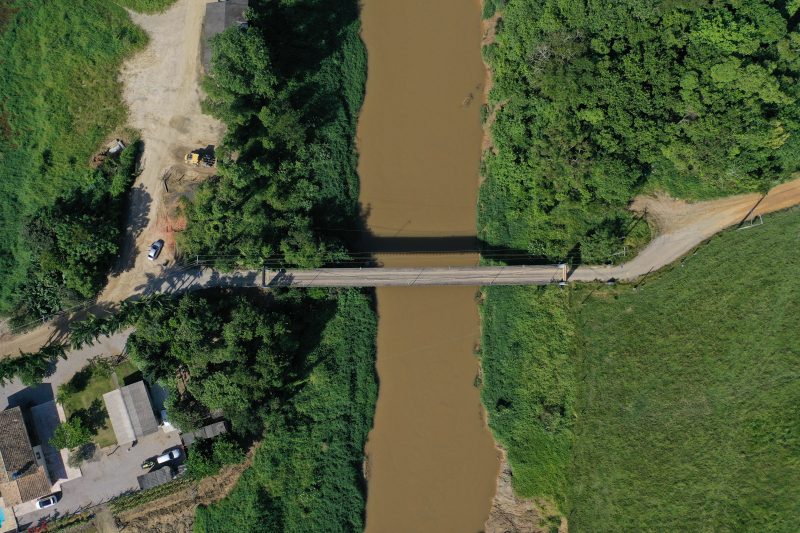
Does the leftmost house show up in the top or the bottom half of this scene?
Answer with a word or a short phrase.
bottom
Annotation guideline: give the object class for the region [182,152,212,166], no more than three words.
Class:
vehicle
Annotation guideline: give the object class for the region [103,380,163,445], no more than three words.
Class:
barn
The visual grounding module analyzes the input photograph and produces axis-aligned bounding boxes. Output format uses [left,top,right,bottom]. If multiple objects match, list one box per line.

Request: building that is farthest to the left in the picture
[0,402,59,509]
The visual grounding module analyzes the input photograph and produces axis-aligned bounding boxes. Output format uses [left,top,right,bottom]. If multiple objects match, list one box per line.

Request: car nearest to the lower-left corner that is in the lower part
[34,497,56,511]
